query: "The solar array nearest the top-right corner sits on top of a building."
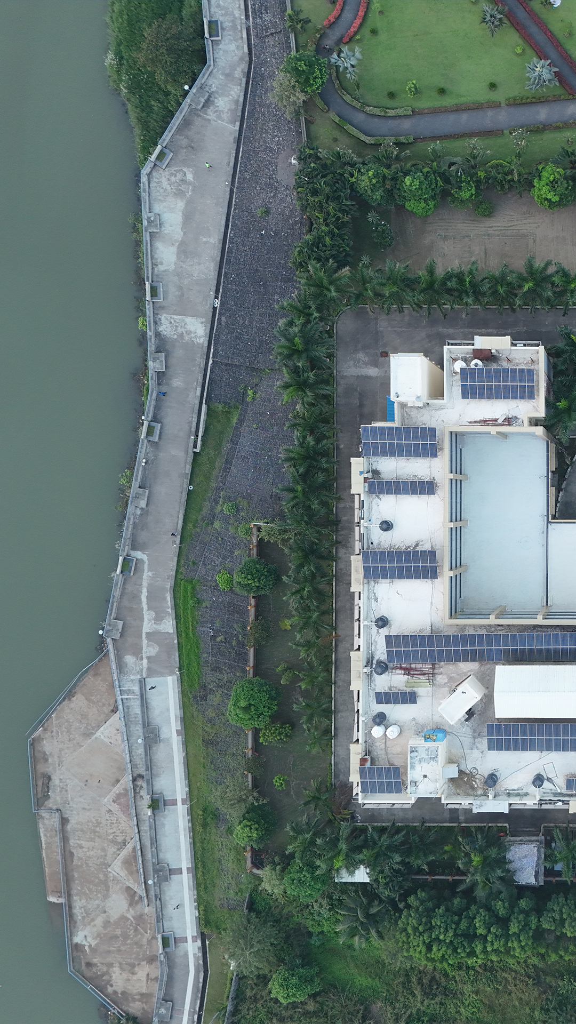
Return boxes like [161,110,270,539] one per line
[460,368,534,400]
